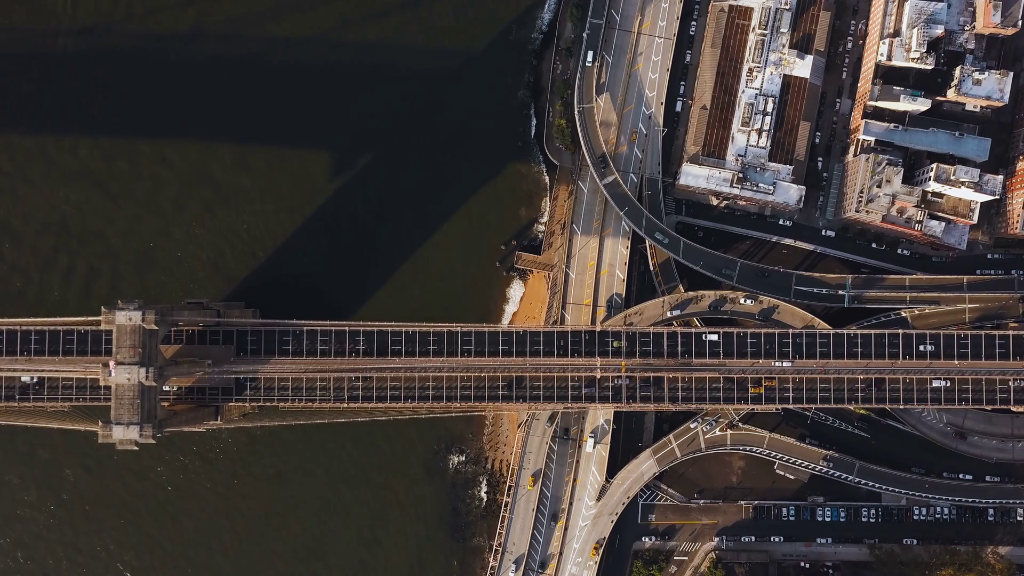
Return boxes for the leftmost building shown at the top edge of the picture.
[680,0,836,184]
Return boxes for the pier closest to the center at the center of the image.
[514,252,552,273]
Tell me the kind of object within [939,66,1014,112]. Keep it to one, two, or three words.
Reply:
house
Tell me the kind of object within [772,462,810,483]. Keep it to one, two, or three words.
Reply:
shed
